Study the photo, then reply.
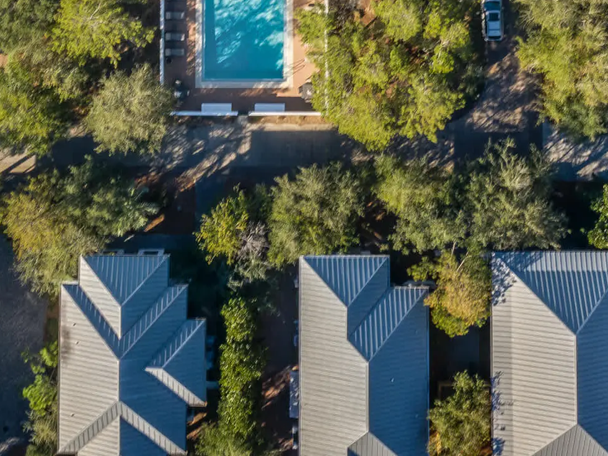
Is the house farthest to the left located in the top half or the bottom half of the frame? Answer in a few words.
bottom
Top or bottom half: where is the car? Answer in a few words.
top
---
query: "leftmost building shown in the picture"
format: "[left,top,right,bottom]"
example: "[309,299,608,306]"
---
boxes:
[57,245,208,456]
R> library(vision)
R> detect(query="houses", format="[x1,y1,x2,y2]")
[57,245,208,456]
[297,253,435,456]
[489,251,608,456]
